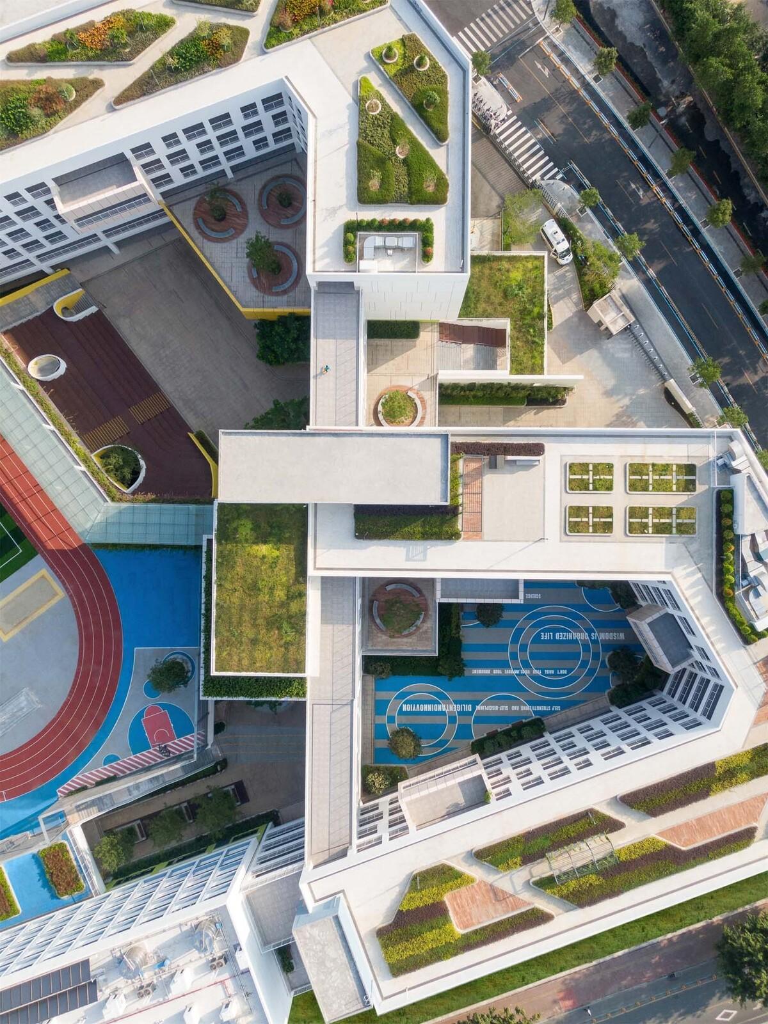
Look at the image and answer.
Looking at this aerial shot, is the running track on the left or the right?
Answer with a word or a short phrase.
left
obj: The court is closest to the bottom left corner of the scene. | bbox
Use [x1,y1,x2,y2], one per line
[82,647,201,774]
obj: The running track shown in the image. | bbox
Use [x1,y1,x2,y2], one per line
[0,433,124,803]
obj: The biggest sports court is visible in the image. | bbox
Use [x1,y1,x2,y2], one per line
[376,580,657,764]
